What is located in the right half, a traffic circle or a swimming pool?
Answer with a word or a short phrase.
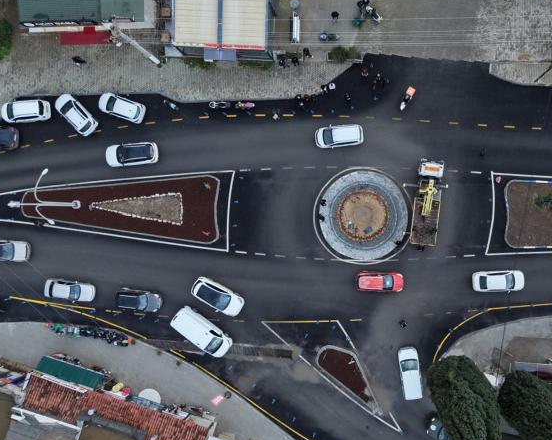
traffic circle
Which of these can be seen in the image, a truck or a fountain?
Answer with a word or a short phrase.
truck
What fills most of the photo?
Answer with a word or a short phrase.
paved ground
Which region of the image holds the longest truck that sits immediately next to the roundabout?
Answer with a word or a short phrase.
right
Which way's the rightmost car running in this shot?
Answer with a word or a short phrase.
from side to side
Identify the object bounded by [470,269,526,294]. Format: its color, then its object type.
white car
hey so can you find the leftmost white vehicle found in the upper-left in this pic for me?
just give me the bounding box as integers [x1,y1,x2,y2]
[1,98,55,123]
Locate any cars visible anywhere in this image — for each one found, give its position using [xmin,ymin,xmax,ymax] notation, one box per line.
[1,98,55,123]
[44,277,99,303]
[0,238,35,262]
[191,276,246,315]
[314,125,365,149]
[56,91,101,140]
[355,269,407,294]
[105,142,161,167]
[114,288,166,315]
[0,126,23,148]
[97,92,150,124]
[397,344,423,401]
[470,269,526,294]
